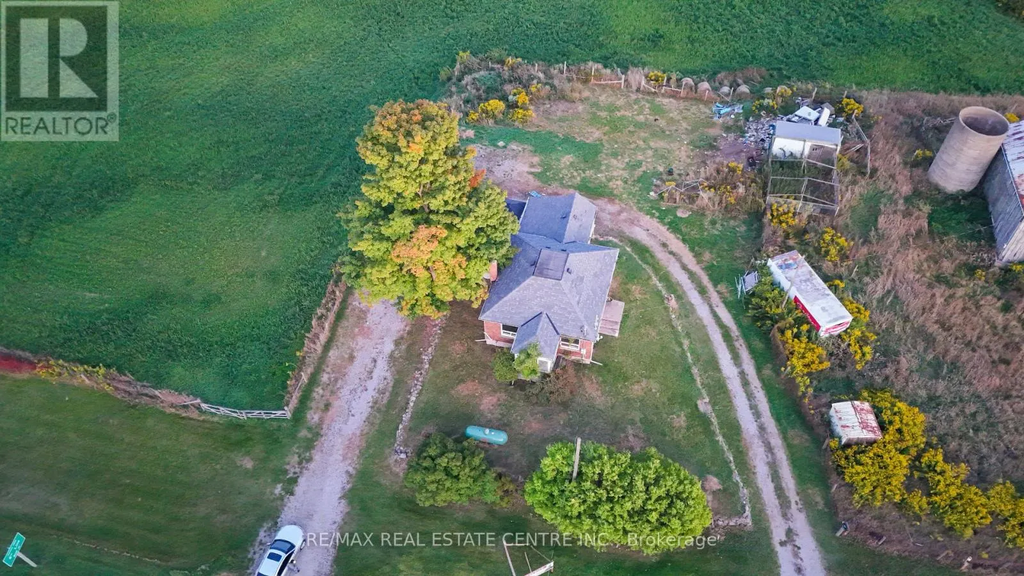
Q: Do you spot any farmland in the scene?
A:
Yes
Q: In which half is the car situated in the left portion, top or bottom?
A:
bottom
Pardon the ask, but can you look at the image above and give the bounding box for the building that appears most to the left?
[475,192,624,380]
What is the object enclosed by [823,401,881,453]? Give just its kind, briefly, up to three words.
shed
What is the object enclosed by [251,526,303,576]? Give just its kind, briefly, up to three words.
car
